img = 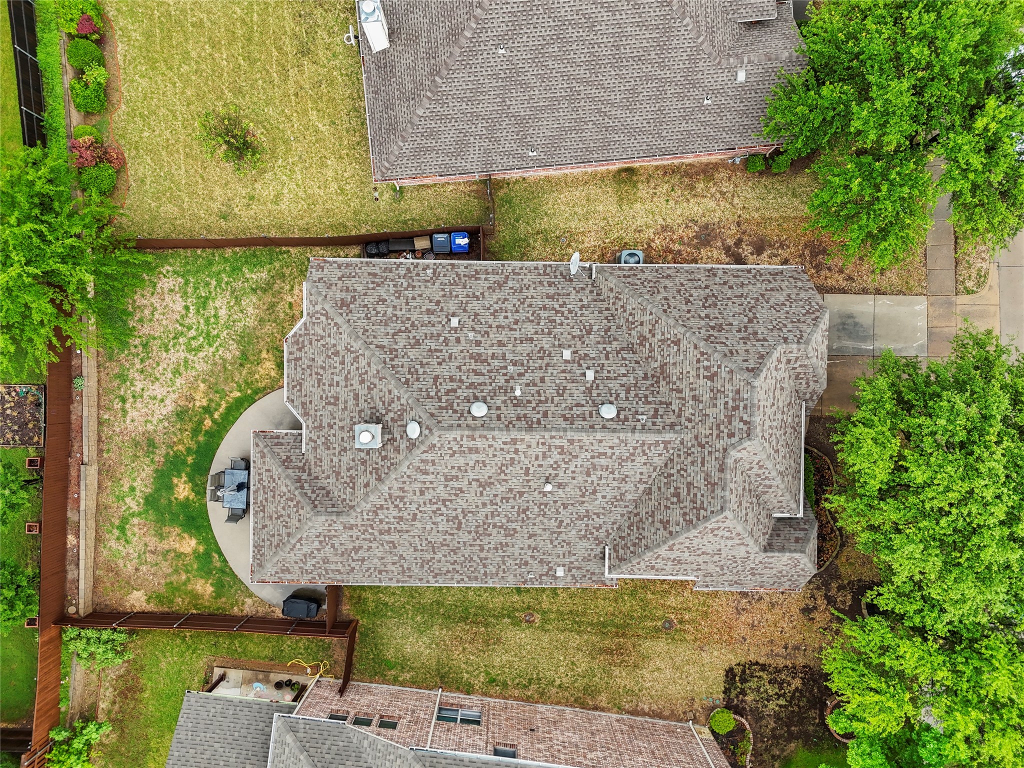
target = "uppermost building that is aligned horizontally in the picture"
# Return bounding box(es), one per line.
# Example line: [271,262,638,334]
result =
[359,0,810,190]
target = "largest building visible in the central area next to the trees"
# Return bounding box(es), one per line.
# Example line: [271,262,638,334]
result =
[250,258,829,591]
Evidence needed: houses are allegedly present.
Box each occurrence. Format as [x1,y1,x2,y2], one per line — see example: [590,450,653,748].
[359,0,810,190]
[250,258,829,591]
[167,673,731,768]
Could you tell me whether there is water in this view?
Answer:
No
